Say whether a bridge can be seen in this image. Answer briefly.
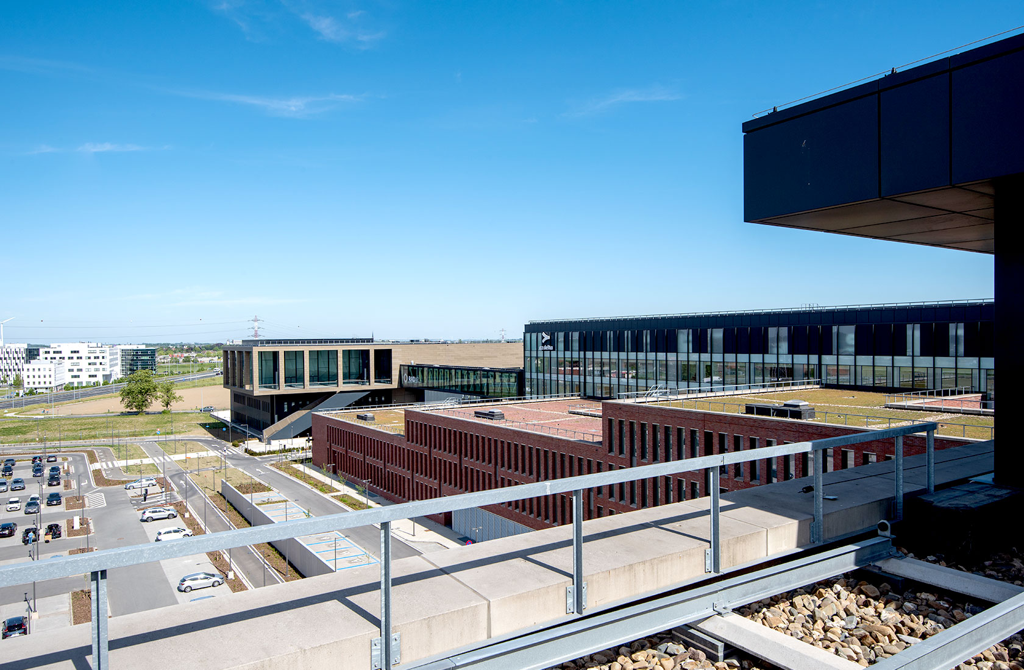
Yes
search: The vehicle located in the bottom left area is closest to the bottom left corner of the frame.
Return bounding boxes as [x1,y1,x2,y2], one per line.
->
[0,606,31,636]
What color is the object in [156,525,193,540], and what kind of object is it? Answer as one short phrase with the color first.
white car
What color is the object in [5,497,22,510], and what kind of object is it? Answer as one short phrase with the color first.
white vehicle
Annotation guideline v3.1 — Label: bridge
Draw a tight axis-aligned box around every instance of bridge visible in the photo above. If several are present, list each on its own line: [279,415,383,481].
[399,360,527,405]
